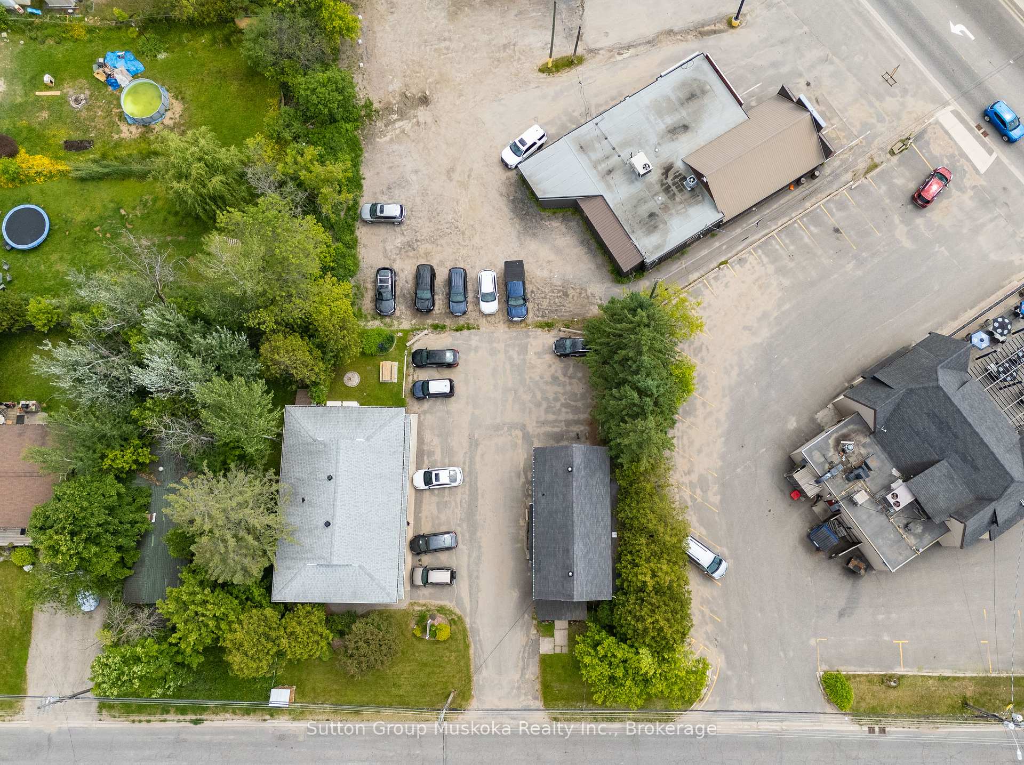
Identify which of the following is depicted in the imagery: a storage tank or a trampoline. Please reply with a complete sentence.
The image shows a trampoline.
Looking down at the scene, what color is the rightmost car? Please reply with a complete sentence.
In this view, the rightmost car is blue.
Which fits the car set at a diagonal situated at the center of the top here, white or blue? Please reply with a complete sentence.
The car set at a diagonal situated at the center of the top is white.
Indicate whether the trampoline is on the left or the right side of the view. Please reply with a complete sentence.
The trampoline sits on the left side.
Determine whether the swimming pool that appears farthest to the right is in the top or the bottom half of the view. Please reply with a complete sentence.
Seen from above, the swimming pool that appears farthest to the right lies in the top half of the view.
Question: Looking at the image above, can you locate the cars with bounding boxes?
[411,347,461,370]
[551,334,600,359]
[502,125,548,167]
[411,377,457,401]
[679,535,731,581]
[412,466,465,491]
[983,104,1024,143]
[412,265,436,314]
[446,268,470,316]
[477,270,499,315]
[410,564,458,590]
[361,201,408,226]
[912,169,951,209]
[373,267,397,316]
[408,530,460,557]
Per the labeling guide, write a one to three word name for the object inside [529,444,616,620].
house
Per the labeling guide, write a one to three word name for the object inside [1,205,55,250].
trampoline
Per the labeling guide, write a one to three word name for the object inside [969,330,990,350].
umbrella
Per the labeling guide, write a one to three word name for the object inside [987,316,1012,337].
umbrella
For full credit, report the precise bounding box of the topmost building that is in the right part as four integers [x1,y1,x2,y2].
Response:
[518,49,837,276]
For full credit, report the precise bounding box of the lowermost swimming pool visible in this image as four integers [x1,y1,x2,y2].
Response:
[119,79,168,123]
